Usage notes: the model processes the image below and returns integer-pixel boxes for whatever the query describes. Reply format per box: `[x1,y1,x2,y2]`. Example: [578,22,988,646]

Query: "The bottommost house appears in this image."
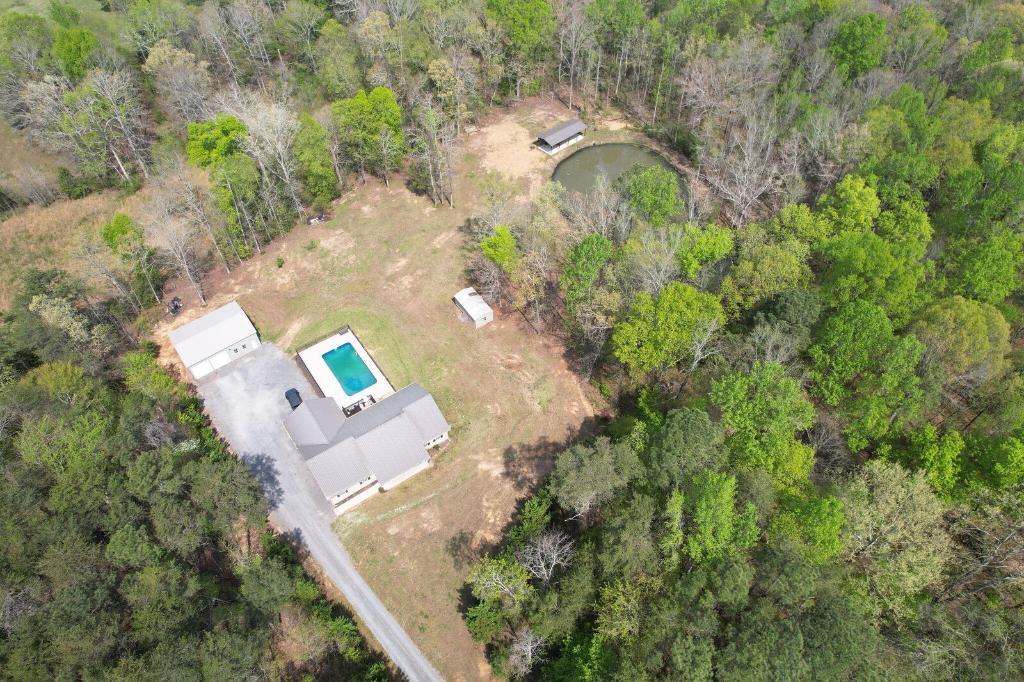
[282,382,453,506]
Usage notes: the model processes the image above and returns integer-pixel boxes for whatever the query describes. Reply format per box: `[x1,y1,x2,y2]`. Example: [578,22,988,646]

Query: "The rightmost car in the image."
[286,389,303,410]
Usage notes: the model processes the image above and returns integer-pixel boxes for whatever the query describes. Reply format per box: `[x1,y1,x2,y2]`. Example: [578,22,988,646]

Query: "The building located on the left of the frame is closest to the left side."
[168,301,261,379]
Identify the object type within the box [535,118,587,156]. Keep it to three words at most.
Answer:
building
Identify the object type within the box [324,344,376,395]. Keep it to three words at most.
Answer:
swimming pool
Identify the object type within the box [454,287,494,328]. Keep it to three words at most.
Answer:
shed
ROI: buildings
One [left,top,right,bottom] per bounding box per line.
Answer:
[454,287,494,328]
[168,301,261,379]
[282,382,453,506]
[535,118,587,156]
